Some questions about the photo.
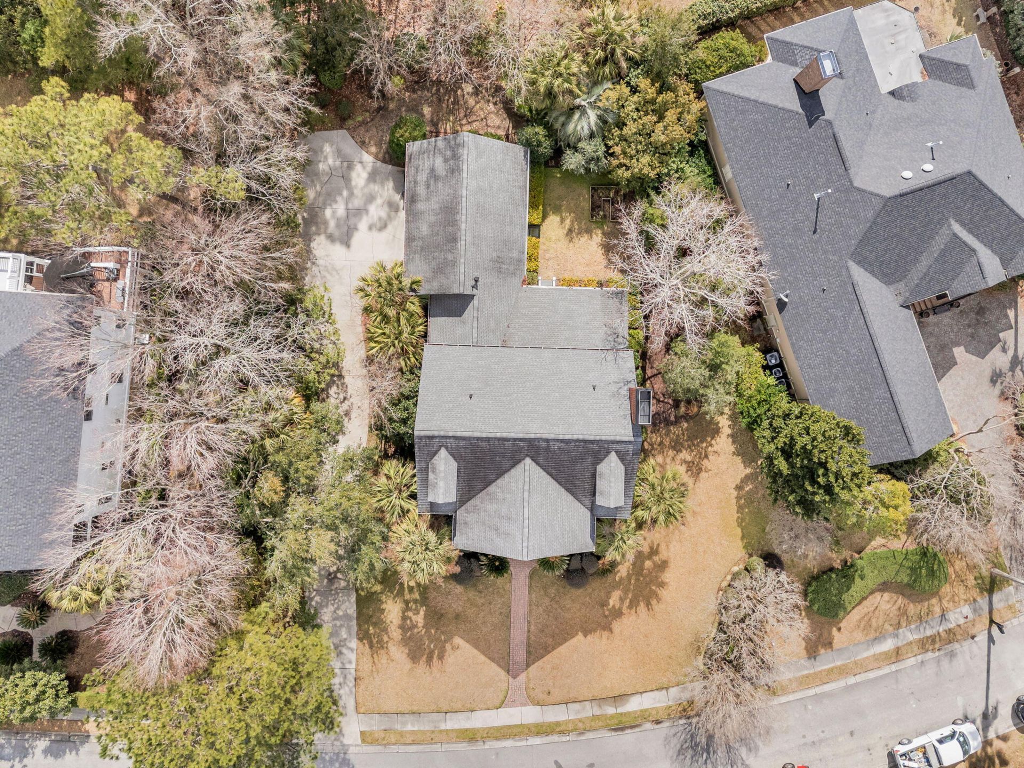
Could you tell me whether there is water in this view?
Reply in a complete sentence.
No, the scene doesn't show any water.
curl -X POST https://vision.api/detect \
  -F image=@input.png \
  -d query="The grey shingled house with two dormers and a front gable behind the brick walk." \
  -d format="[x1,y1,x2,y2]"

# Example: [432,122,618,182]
[403,132,653,560]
